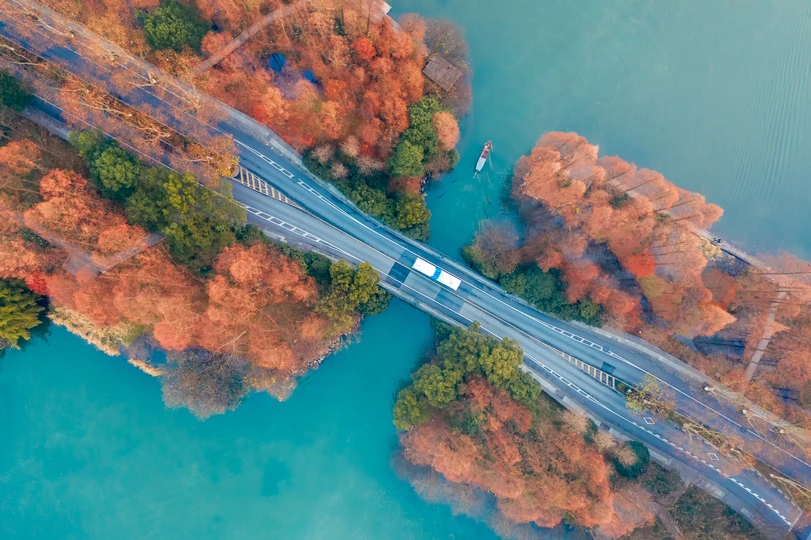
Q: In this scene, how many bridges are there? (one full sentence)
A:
I count 1 bridge.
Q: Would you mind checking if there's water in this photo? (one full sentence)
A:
Yes, some water is visible.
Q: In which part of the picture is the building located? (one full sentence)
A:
The building sits in the top section of the image.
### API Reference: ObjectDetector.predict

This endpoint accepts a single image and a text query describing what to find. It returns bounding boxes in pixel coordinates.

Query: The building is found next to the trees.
[424,54,462,95]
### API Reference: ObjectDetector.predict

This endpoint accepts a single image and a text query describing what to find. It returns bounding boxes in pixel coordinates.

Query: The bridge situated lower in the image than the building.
[366,228,497,329]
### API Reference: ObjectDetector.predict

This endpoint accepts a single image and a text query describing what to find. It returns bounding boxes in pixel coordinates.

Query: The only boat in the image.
[473,140,491,179]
